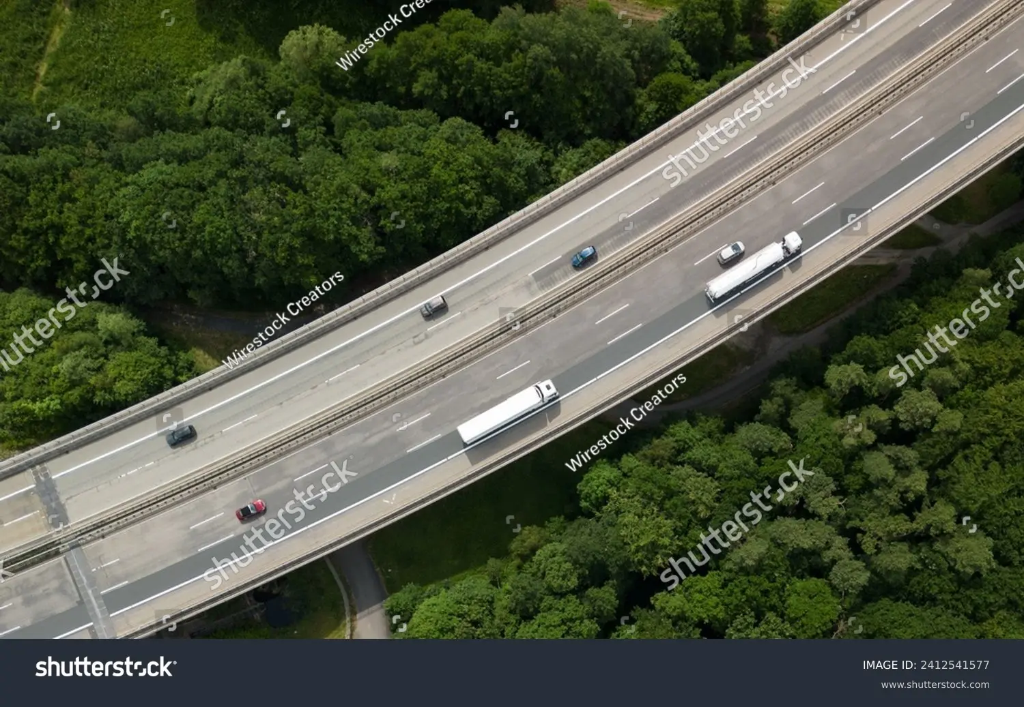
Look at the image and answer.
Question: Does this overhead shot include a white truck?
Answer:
Yes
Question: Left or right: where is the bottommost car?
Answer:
left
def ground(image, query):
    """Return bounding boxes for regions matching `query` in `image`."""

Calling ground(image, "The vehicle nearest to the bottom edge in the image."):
[238,500,266,520]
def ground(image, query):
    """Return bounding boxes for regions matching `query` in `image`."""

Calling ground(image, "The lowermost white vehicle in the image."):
[457,377,560,445]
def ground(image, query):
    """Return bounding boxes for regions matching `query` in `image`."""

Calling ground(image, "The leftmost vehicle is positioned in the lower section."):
[166,425,198,447]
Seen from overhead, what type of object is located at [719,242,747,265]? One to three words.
car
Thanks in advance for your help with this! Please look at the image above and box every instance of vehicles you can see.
[166,425,198,447]
[419,296,450,320]
[719,242,747,265]
[238,500,266,520]
[705,230,803,303]
[570,246,598,268]
[457,377,560,445]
